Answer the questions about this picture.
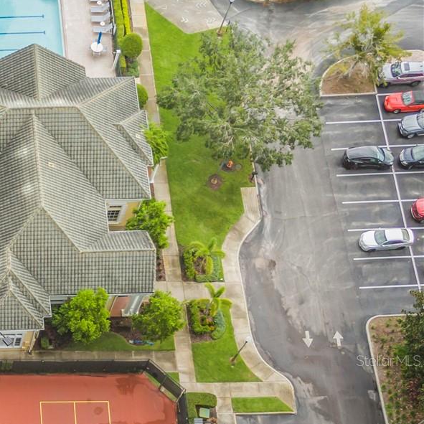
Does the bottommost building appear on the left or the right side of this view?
left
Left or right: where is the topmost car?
right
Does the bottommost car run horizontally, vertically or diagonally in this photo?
horizontally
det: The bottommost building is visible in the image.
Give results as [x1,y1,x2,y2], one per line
[0,47,160,349]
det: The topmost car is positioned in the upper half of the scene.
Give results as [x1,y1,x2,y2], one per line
[379,63,424,87]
